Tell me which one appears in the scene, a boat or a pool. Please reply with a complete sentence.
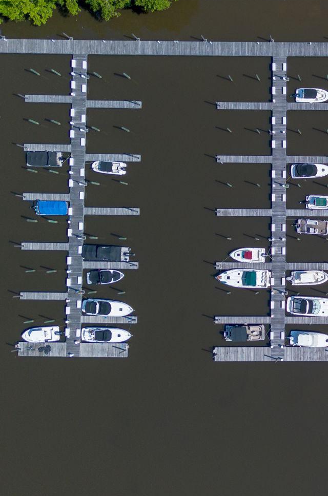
Visible in the photo is a boat.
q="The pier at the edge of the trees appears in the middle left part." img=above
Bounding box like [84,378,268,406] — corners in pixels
[18,54,142,358]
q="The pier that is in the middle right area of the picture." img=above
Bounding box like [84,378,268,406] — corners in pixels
[214,56,328,362]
